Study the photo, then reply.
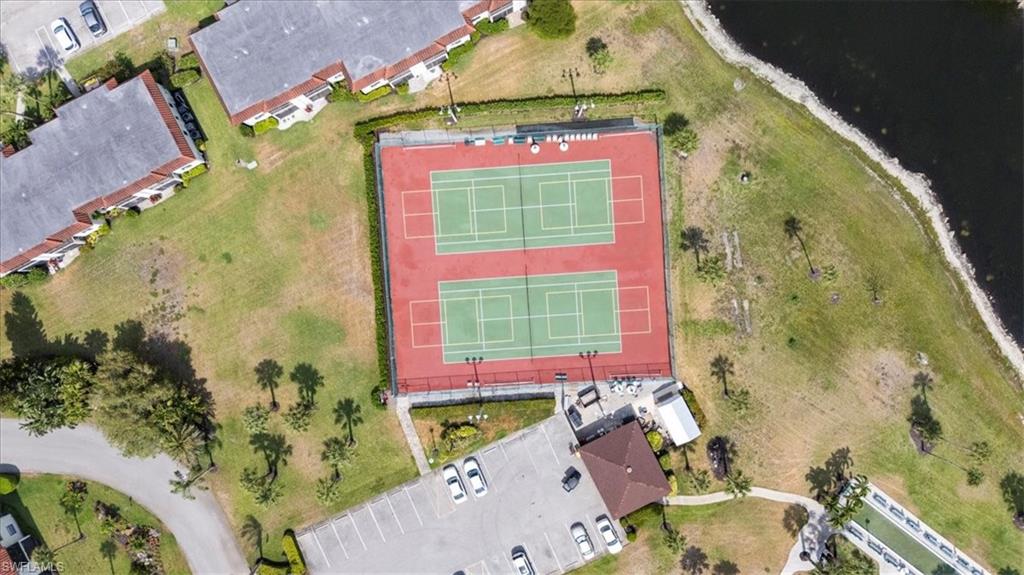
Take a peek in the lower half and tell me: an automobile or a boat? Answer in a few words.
automobile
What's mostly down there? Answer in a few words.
grass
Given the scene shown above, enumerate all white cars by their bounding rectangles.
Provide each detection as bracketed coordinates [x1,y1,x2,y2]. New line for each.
[513,552,535,575]
[571,522,594,559]
[596,516,621,553]
[444,466,468,504]
[50,18,82,54]
[464,458,488,496]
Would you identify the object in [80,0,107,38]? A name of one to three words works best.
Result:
car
